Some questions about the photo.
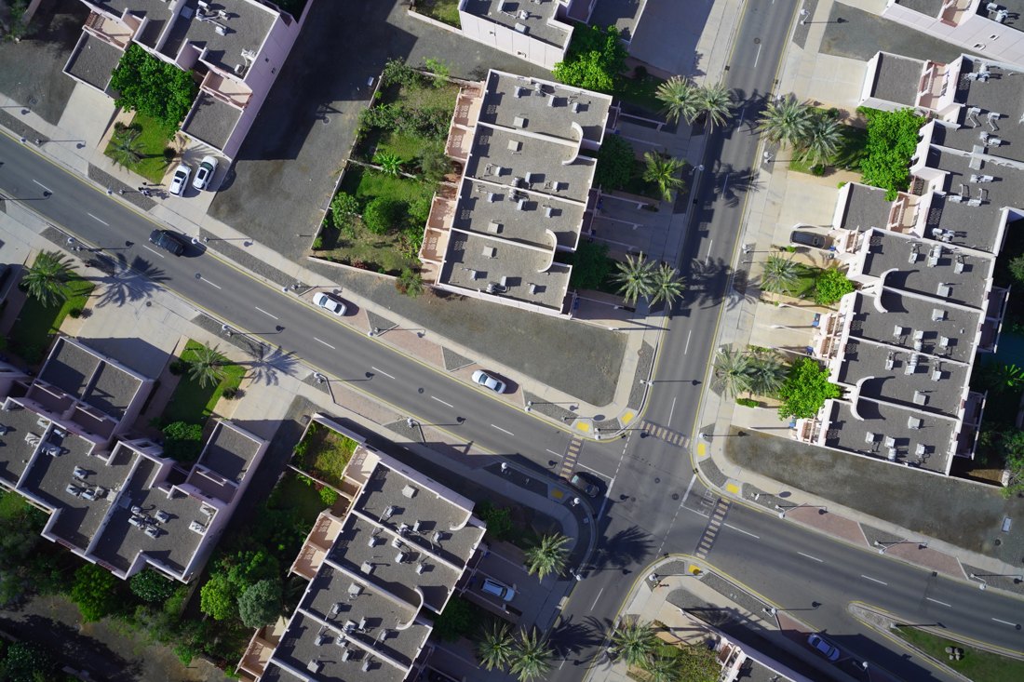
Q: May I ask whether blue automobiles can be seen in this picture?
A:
Yes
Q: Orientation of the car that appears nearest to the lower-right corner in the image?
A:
diagonally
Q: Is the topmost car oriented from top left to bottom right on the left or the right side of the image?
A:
left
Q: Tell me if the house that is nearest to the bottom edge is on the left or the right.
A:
right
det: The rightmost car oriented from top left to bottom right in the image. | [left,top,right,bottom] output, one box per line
[806,631,840,660]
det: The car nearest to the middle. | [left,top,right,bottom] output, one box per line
[471,370,507,394]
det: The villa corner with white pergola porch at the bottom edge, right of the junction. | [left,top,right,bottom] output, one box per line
[707,634,814,682]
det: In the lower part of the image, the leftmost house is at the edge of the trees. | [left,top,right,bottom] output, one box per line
[0,337,272,582]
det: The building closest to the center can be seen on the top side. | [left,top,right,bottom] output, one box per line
[417,70,620,319]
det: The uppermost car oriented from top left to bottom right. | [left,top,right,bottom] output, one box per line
[150,229,188,258]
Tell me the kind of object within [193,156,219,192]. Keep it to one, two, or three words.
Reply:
car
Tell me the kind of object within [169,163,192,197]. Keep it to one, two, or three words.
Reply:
car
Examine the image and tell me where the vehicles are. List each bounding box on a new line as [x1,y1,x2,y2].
[169,163,192,197]
[481,577,515,600]
[568,471,602,497]
[788,230,826,250]
[193,156,219,192]
[150,229,188,258]
[416,667,451,682]
[806,631,840,660]
[313,291,348,317]
[471,370,507,394]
